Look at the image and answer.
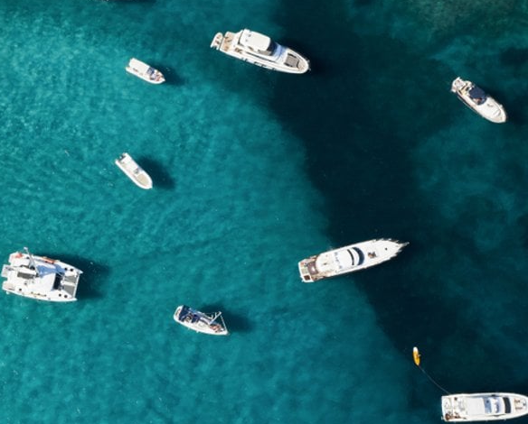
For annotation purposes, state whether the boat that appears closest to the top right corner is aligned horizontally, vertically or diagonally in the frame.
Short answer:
diagonally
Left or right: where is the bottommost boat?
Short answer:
right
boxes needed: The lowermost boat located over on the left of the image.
[176,306,230,335]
